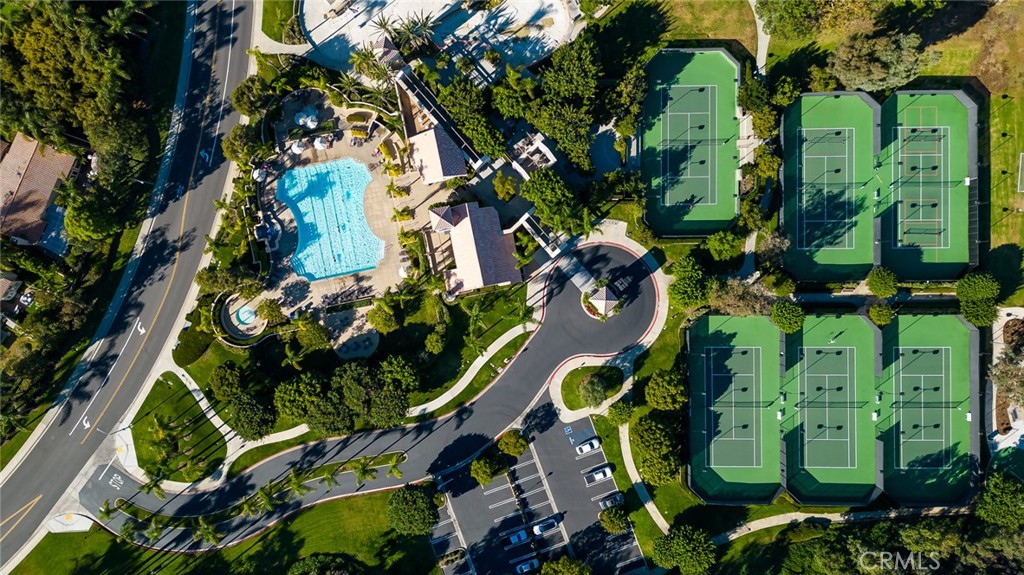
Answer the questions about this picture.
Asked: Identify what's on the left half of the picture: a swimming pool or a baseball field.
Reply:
swimming pool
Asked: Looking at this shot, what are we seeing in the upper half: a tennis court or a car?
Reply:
tennis court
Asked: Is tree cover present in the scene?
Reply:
Yes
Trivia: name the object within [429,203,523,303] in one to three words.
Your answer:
building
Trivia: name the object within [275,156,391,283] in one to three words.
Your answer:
swimming pool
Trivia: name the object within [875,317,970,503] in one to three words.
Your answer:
tennis court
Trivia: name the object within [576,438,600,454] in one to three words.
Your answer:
car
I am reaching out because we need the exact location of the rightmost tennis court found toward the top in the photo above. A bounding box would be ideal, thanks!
[873,95,968,280]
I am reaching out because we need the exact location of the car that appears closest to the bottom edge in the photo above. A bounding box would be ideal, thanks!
[515,557,540,573]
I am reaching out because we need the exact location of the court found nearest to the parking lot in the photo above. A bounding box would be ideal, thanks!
[689,317,780,502]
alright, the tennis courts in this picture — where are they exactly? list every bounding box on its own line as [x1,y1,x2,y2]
[873,95,968,280]
[790,96,873,281]
[781,317,874,503]
[875,317,970,503]
[646,50,740,235]
[689,317,780,502]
